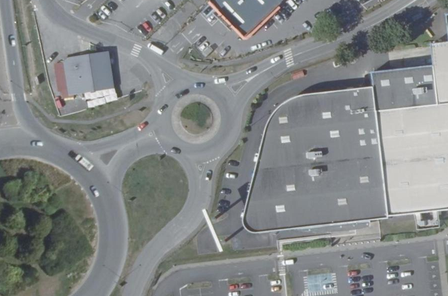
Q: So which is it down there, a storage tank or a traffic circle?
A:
traffic circle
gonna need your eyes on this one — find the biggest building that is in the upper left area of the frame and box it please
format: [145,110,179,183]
[54,50,114,99]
